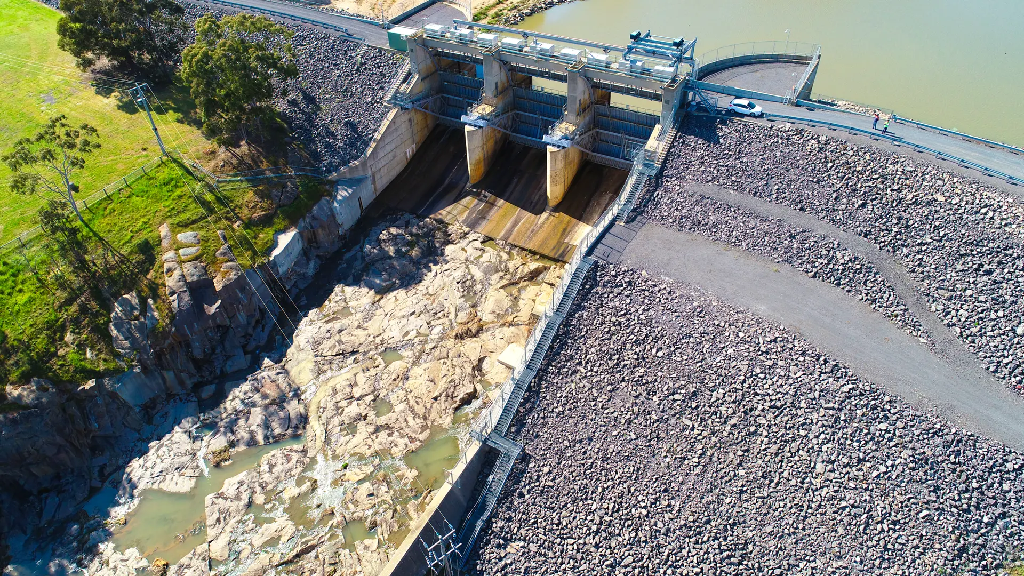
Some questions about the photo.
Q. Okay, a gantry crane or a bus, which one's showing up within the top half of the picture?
gantry crane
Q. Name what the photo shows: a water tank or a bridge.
bridge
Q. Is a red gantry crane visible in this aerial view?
No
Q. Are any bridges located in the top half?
Yes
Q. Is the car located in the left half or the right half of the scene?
right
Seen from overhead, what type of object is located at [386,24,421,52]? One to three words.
shed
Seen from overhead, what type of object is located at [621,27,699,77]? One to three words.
container crane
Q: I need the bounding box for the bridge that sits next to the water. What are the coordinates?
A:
[403,15,695,105]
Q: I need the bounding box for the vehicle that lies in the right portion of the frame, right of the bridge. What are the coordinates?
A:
[725,97,763,117]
